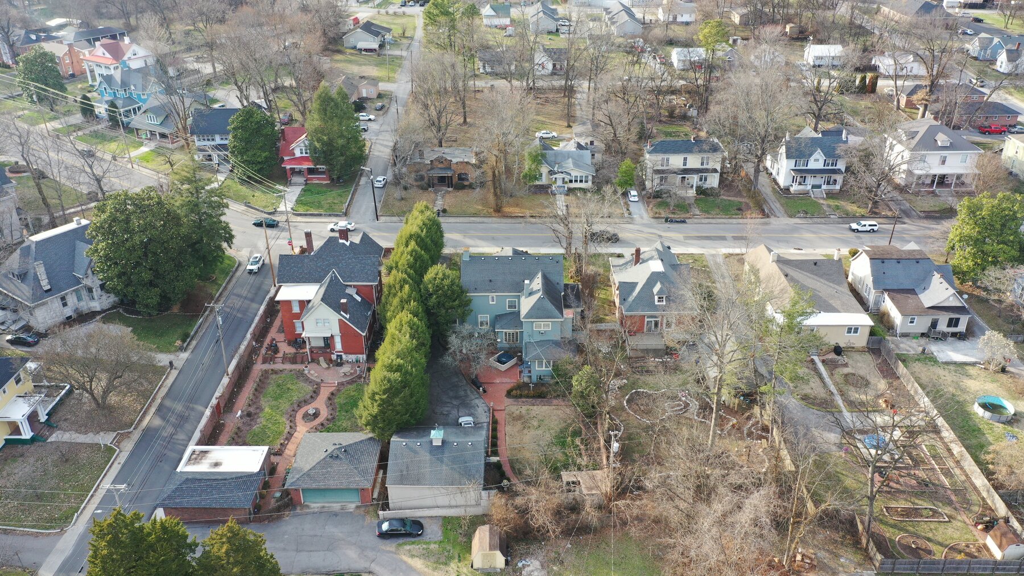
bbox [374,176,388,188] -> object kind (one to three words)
vehicle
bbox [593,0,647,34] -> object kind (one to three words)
house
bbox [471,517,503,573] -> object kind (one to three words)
shed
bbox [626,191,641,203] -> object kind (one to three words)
vehicle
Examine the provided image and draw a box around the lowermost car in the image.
[372,518,423,540]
